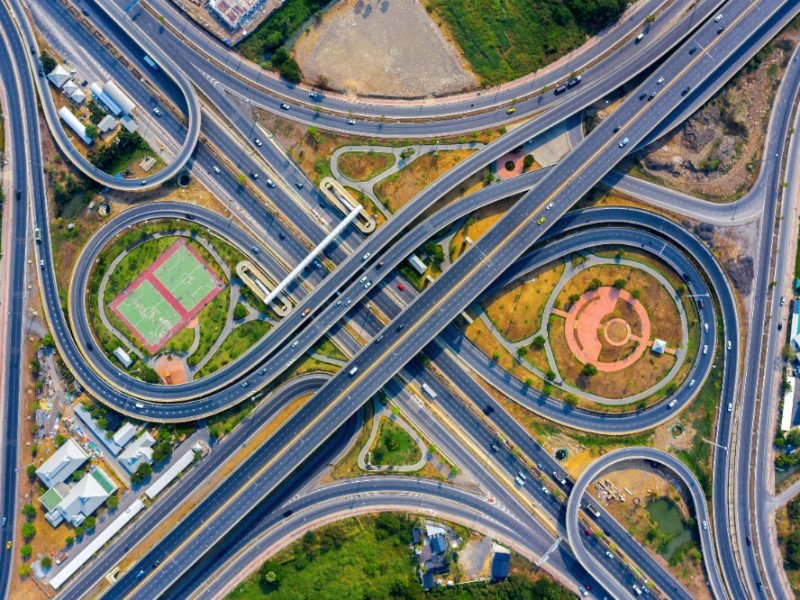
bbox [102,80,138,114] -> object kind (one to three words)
shed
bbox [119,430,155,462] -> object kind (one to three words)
house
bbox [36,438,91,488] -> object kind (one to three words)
building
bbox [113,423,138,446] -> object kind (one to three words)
house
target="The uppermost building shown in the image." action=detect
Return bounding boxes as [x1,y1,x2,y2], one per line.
[205,0,272,36]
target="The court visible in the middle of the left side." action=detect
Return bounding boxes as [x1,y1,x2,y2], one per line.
[109,238,224,354]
